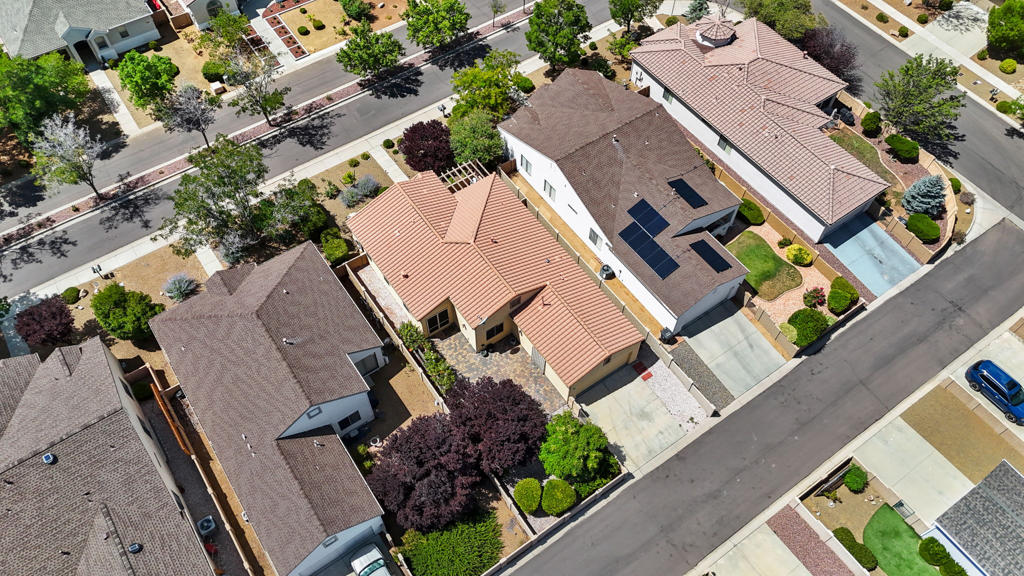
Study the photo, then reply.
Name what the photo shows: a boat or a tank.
boat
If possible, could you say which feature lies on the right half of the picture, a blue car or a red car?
blue car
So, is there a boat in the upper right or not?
No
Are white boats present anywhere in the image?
No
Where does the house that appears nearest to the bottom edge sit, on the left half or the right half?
right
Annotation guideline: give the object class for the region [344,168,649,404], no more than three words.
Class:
house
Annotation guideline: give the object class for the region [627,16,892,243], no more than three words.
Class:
house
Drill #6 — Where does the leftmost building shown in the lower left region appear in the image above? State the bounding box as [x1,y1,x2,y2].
[0,337,218,576]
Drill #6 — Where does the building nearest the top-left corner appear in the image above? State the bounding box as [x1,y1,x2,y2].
[0,0,161,70]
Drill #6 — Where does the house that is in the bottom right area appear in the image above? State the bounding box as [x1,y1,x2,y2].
[920,460,1024,576]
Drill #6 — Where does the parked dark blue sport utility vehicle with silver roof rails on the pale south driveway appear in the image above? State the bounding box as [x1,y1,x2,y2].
[967,360,1024,426]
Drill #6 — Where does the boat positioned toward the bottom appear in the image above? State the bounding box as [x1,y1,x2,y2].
[150,380,187,454]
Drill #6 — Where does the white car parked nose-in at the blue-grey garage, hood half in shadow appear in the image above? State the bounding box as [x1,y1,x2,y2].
[352,540,403,576]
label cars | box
[967,360,1024,426]
[352,540,403,576]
